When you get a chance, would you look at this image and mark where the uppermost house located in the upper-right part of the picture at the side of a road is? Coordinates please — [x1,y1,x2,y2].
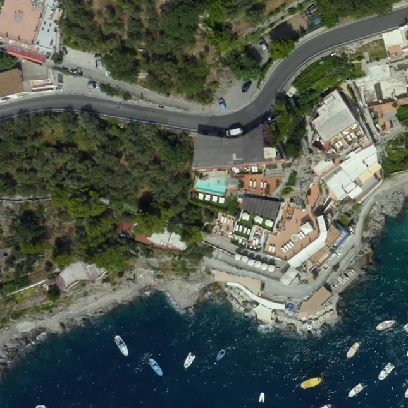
[383,26,408,57]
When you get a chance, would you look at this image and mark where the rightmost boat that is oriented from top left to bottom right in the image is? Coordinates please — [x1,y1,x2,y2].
[148,357,161,376]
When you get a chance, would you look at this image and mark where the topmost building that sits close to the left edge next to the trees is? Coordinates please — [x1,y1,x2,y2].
[0,0,71,52]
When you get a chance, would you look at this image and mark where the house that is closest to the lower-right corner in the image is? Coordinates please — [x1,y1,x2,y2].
[299,286,333,318]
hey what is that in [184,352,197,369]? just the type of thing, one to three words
boat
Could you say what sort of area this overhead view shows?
residential area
